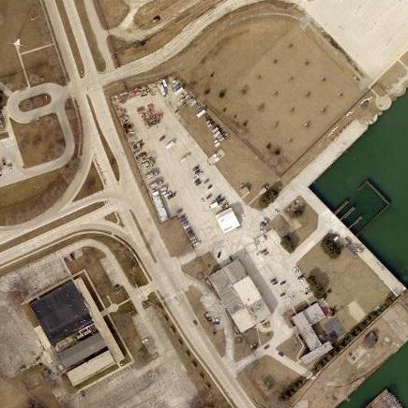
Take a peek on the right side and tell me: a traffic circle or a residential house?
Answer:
residential house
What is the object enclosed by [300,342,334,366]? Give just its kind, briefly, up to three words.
house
